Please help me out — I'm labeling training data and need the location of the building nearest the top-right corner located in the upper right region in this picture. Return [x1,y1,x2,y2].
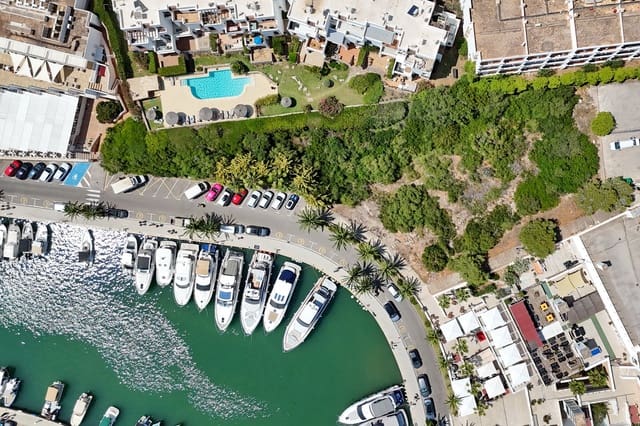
[458,0,640,76]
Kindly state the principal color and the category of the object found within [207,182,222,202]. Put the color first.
pink car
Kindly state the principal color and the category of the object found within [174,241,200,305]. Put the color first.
white boat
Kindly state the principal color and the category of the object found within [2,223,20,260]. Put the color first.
white boat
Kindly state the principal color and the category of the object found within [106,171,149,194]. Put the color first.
white truck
